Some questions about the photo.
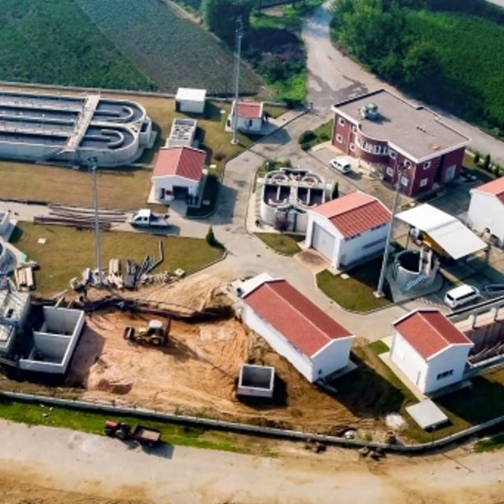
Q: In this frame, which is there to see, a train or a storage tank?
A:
storage tank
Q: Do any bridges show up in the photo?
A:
Yes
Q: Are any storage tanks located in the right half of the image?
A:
Yes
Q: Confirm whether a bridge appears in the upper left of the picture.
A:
Yes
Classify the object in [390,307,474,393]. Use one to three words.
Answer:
building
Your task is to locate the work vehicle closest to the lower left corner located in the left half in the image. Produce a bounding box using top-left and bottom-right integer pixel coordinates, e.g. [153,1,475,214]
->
[101,419,131,441]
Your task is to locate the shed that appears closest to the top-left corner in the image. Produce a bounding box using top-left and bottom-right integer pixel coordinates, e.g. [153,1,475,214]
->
[176,90,205,113]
